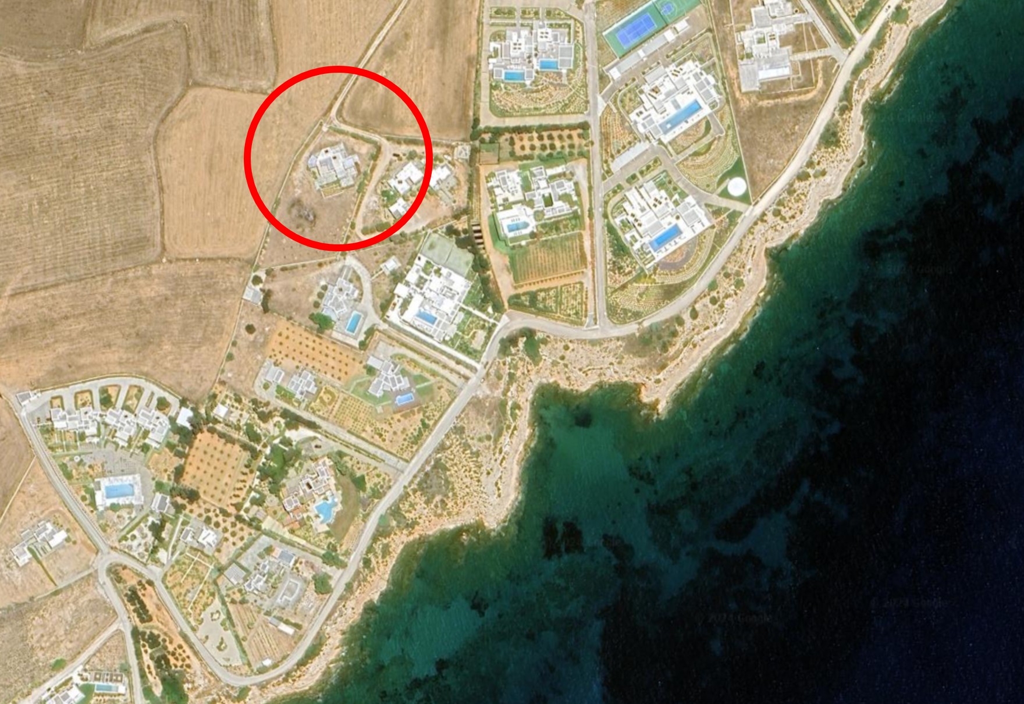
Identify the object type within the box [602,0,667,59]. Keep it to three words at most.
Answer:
tennis court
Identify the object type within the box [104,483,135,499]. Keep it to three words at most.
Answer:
swimming pool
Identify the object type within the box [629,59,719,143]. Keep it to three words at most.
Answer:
house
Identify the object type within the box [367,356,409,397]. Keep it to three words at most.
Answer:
house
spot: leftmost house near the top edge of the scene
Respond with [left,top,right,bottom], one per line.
[489,27,534,84]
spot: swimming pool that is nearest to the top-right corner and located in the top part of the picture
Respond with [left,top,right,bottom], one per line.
[658,99,703,135]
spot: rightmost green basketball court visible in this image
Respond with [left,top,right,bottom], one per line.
[653,0,702,25]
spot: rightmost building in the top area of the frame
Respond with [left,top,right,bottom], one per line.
[736,0,802,92]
